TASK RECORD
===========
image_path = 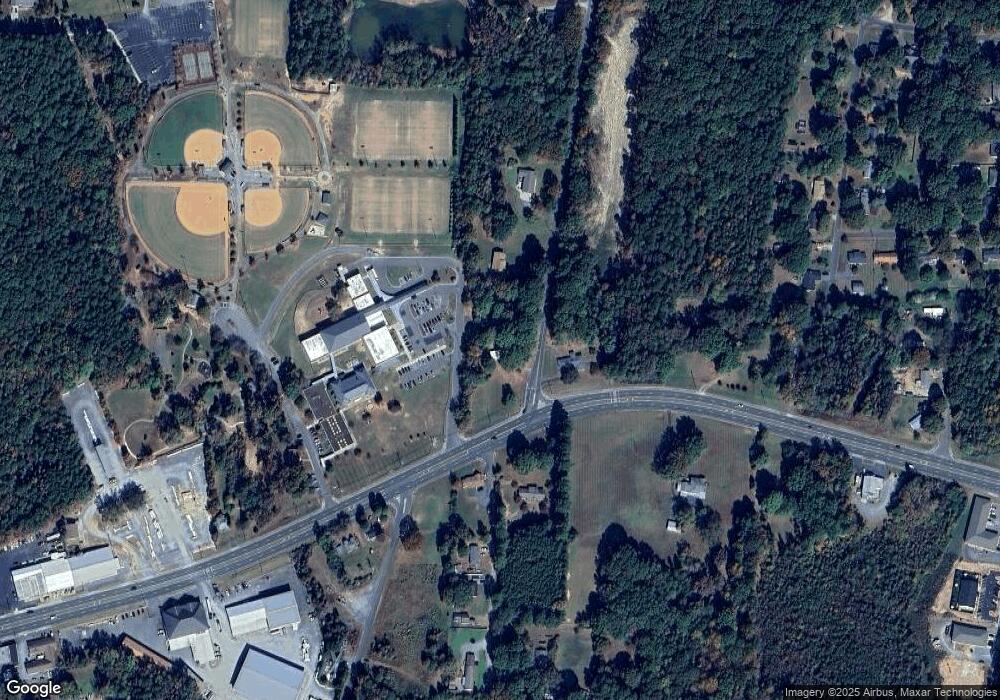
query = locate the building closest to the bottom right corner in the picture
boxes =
[950,622,988,646]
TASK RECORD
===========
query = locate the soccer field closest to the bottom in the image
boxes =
[351,176,451,233]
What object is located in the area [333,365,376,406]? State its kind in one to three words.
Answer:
building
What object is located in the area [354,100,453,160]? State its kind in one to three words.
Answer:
soccer field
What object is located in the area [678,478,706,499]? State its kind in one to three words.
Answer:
house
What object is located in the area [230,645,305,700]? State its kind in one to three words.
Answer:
building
